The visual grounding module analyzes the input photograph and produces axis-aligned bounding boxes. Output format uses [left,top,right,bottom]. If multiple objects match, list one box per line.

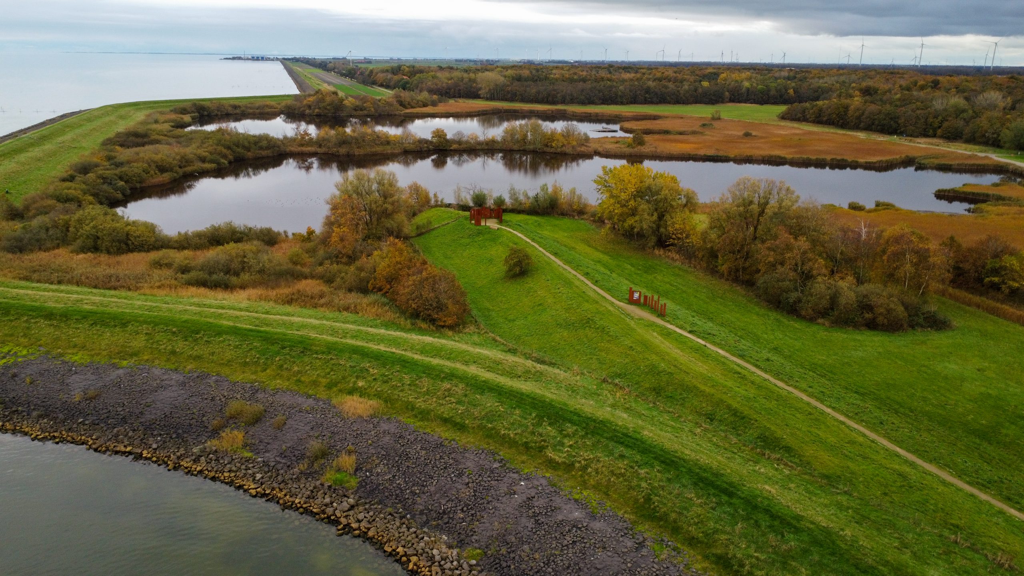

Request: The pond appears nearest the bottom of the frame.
[126,150,1024,234]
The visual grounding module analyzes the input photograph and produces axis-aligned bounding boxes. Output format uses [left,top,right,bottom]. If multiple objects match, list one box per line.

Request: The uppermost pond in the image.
[195,112,686,140]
